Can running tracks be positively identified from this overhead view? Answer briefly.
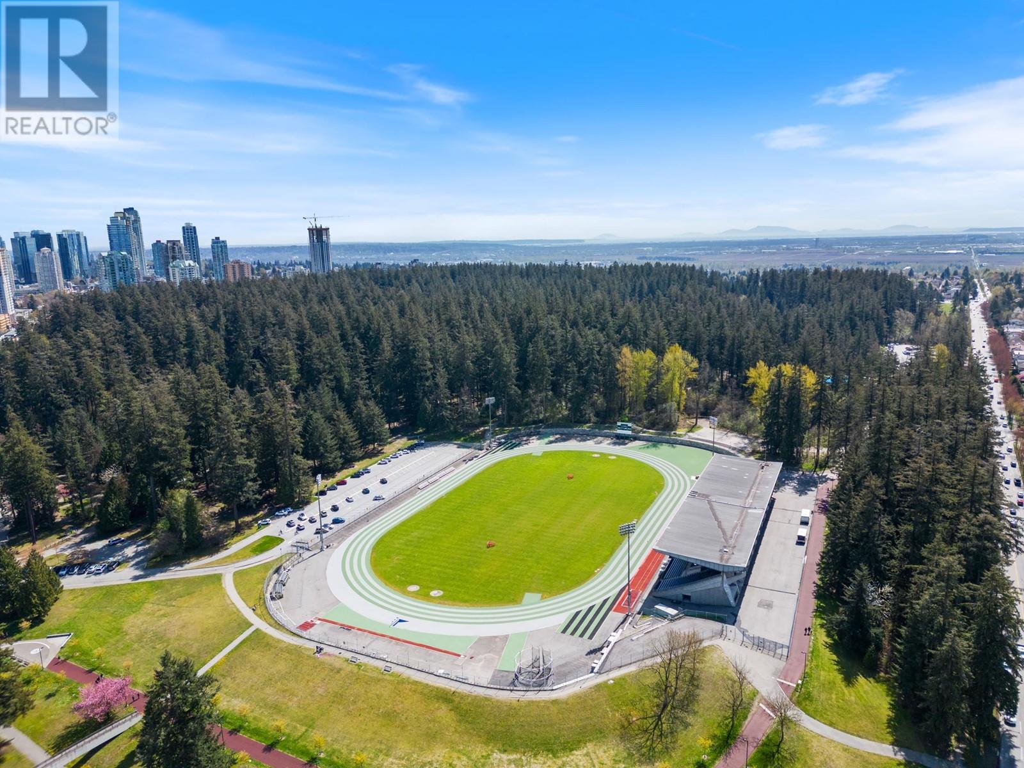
Yes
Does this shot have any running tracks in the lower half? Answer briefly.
Yes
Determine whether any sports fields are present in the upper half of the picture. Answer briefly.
No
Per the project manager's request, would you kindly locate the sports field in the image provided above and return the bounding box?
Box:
[376,451,661,605]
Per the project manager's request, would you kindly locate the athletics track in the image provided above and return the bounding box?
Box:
[339,444,690,627]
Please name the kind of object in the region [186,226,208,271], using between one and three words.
building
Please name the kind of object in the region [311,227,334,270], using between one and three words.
building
